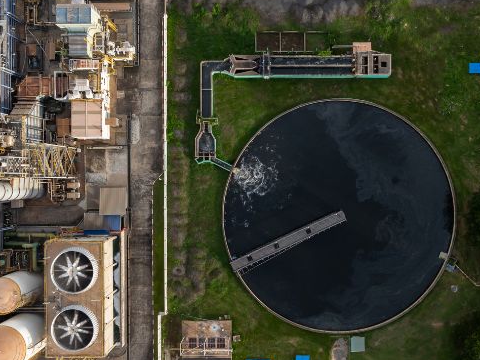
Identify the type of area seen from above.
industrial area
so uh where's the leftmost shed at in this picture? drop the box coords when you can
[17,76,54,98]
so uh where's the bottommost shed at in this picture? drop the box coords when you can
[180,316,233,360]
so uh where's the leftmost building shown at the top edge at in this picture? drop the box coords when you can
[54,1,109,33]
